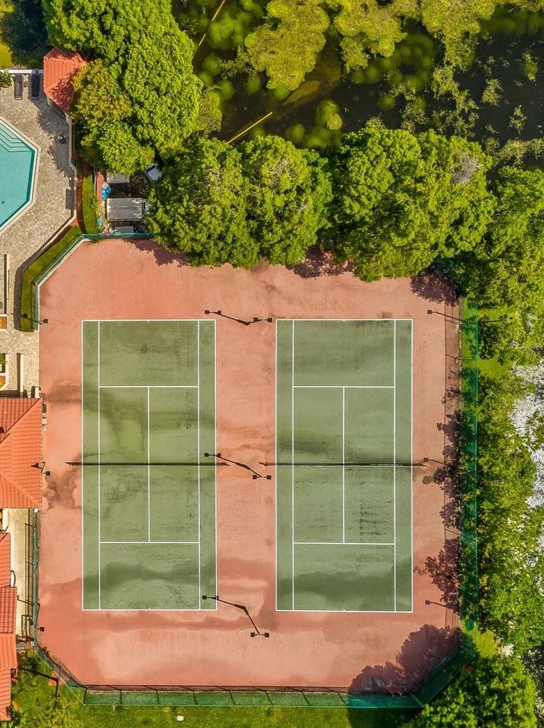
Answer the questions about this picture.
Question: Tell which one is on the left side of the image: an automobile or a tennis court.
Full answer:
What appears on the left side of the image is a tennis court.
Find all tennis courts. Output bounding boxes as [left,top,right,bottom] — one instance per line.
[73,319,228,611]
[268,319,430,612]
